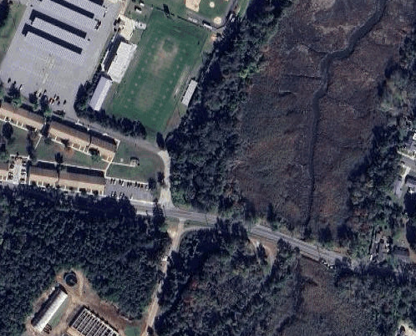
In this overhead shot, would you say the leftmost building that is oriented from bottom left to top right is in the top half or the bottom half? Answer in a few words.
bottom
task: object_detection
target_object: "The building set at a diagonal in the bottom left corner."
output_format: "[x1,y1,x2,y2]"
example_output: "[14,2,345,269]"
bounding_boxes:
[32,290,68,333]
